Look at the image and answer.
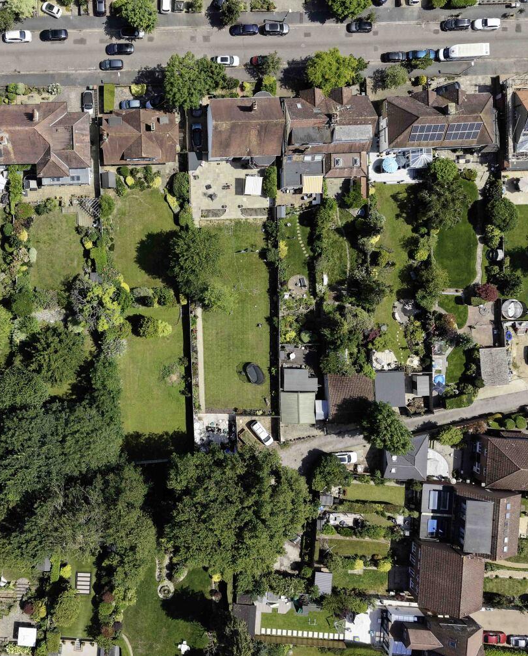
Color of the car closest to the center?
white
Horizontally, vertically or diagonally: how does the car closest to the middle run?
diagonally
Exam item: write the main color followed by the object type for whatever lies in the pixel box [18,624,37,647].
white gazebo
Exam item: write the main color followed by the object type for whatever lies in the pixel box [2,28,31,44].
white car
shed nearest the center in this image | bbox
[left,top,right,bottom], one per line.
[283,368,317,390]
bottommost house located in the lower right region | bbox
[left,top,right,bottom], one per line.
[381,600,483,656]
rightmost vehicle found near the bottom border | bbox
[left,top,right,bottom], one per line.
[509,634,528,646]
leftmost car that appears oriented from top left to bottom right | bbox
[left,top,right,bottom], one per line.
[40,1,63,19]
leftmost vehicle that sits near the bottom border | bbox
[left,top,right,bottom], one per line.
[482,631,506,643]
